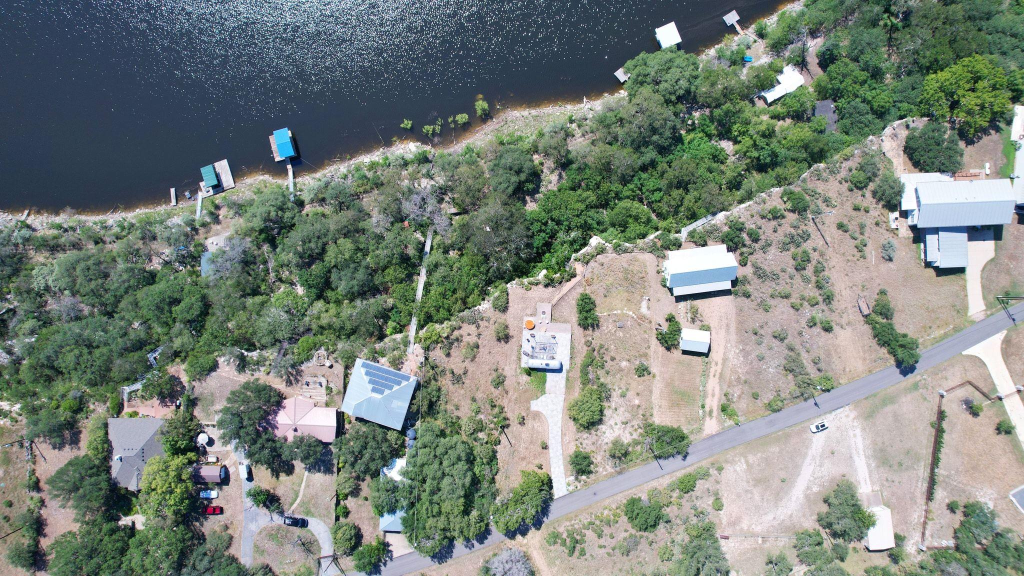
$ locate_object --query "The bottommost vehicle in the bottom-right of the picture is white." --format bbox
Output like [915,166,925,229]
[811,421,830,434]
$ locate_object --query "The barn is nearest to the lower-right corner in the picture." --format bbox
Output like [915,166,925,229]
[857,504,895,551]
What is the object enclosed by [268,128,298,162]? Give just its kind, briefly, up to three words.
building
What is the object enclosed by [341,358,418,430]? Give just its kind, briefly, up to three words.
house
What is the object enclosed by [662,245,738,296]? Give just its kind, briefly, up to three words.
house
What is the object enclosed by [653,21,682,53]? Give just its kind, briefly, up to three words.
building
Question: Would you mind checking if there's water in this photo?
Yes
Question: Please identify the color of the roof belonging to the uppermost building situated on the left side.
blue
